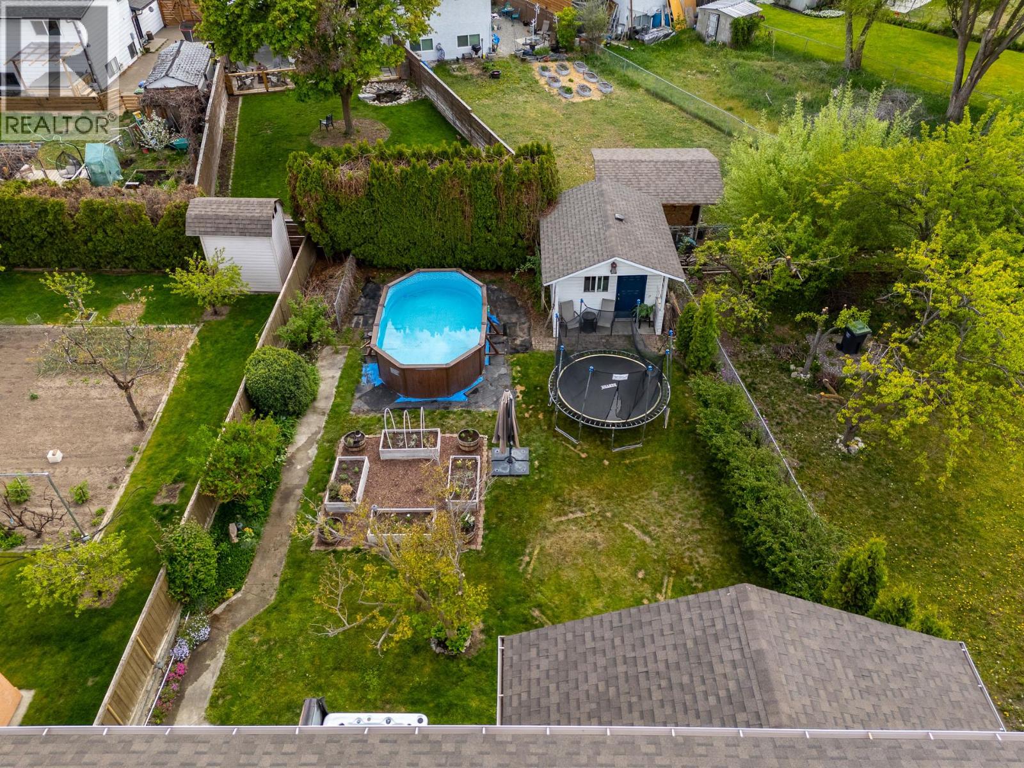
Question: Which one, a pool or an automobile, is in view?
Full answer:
I can see a pool in this picture.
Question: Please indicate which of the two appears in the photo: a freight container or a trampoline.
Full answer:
It is a trampoline that can be seen here.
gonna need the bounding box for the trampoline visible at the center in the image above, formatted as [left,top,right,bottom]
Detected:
[546,299,673,453]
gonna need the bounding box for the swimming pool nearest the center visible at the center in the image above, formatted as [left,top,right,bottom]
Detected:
[350,268,512,397]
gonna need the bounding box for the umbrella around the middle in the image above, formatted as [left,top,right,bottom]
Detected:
[493,388,529,475]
